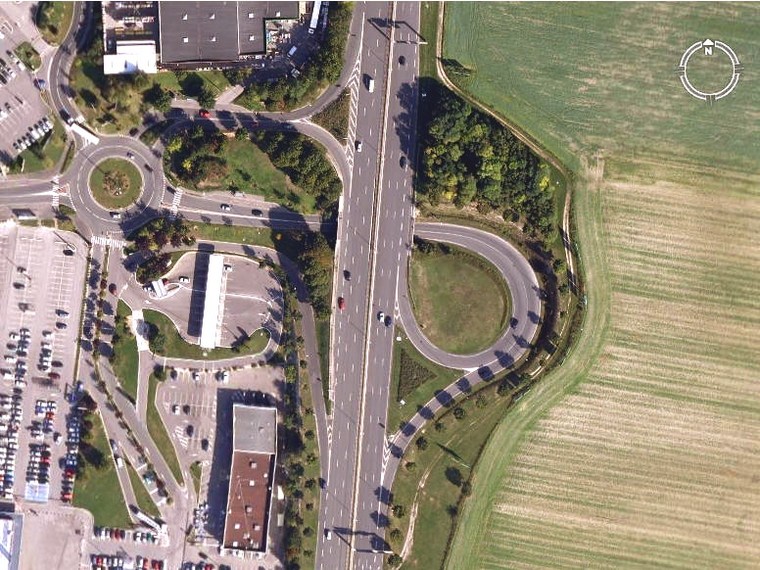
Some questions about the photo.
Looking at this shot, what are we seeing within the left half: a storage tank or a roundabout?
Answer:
roundabout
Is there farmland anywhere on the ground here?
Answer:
Yes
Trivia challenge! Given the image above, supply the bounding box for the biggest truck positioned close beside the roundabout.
[65,118,99,145]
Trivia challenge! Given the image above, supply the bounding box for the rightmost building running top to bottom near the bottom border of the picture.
[220,404,277,561]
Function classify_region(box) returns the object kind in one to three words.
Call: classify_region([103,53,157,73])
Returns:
building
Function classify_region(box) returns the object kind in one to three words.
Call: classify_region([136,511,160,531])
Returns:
bus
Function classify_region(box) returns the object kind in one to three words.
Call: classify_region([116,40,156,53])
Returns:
greenhouse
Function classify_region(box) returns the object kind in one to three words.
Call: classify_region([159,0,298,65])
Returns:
building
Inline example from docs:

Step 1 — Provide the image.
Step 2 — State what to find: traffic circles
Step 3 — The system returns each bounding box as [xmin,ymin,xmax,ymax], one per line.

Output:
[70,137,164,230]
